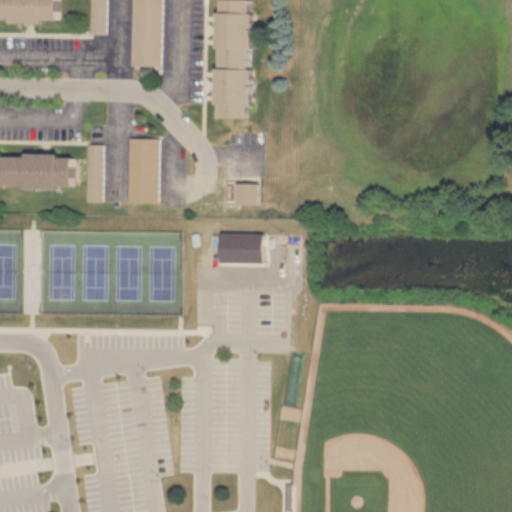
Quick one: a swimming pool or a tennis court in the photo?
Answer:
tennis court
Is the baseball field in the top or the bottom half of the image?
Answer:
bottom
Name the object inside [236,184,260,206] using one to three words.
shed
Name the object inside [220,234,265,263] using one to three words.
building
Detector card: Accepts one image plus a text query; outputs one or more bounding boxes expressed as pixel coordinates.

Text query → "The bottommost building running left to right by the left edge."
[0,154,78,190]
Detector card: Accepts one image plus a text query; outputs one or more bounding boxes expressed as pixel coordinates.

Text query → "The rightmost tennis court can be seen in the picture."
[148,246,177,302]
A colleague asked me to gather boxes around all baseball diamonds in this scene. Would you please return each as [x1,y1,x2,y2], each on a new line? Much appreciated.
[297,304,512,512]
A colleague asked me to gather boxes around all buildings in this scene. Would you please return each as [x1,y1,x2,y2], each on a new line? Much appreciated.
[0,154,78,190]
[91,0,108,36]
[212,70,254,120]
[87,146,105,203]
[236,184,260,206]
[0,0,64,24]
[132,0,162,70]
[217,0,254,13]
[214,14,254,69]
[130,138,160,204]
[220,234,265,263]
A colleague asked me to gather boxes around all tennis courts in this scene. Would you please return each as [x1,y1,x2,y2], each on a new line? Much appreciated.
[148,246,177,302]
[0,244,18,299]
[49,244,75,300]
[83,245,108,301]
[114,246,143,302]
